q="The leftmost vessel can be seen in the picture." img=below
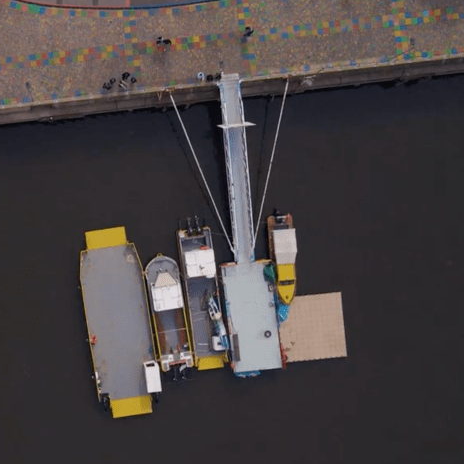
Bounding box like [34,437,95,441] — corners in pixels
[77,226,162,418]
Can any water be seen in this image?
Yes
